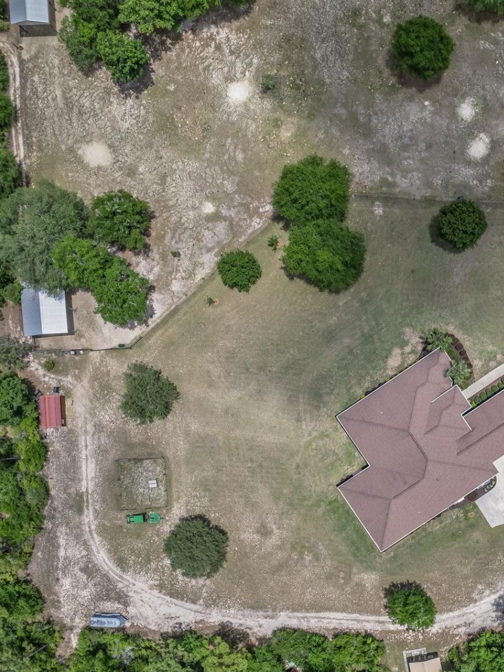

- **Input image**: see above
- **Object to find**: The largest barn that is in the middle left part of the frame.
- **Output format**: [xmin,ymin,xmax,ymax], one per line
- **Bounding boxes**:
[20,278,75,337]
